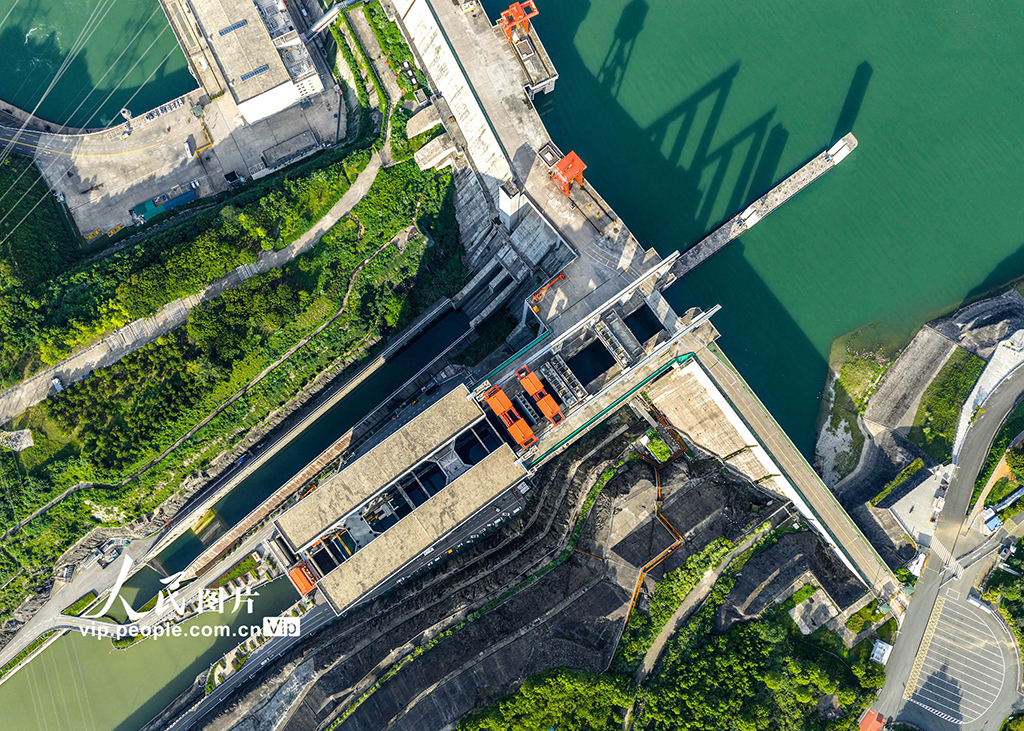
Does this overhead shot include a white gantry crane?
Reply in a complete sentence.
No, the scene contains no white gantry crane.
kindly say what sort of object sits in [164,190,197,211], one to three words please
shed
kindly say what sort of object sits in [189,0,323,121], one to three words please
building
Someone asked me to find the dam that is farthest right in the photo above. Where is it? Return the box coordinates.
[385,0,901,587]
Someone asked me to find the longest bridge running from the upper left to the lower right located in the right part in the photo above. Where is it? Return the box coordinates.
[643,288,690,335]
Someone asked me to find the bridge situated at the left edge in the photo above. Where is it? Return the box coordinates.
[0,603,166,675]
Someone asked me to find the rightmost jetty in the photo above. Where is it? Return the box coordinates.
[810,133,857,181]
